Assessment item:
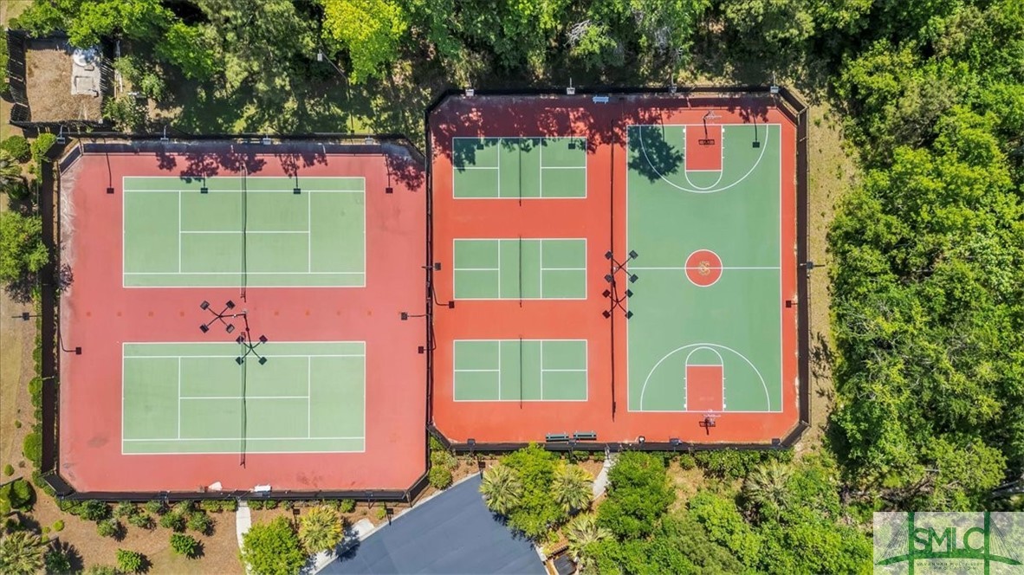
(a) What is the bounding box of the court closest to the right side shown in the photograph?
[628,124,783,412]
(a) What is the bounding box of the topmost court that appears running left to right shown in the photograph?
[452,137,587,199]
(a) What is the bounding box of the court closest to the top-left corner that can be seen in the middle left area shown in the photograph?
[122,177,365,288]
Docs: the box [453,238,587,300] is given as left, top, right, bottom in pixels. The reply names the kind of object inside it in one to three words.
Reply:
sports court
